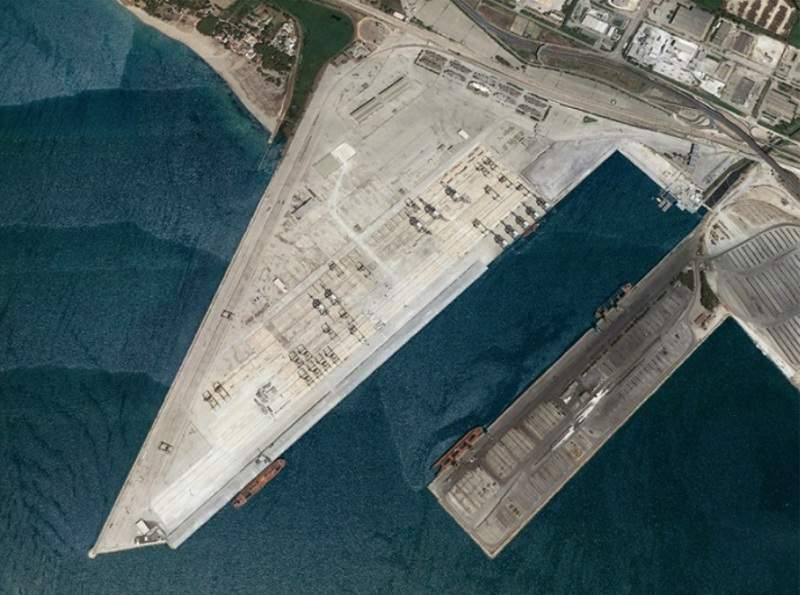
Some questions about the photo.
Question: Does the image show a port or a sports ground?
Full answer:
It's a port.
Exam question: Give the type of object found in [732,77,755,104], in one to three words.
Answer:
building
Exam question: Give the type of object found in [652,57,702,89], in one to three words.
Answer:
building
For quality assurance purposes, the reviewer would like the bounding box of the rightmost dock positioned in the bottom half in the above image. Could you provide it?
[427,217,737,558]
